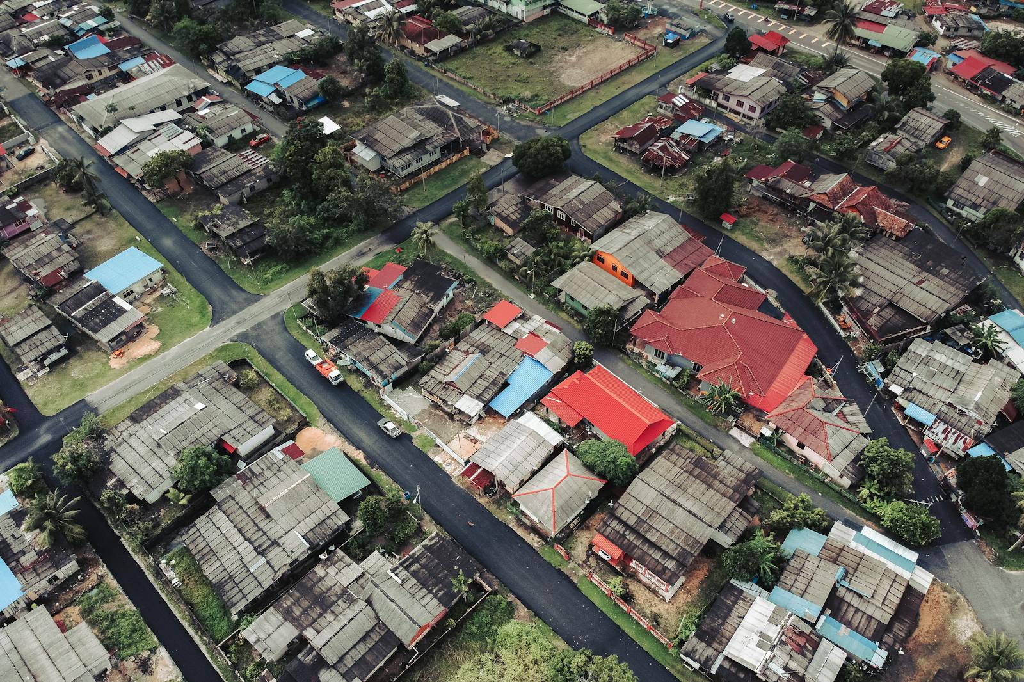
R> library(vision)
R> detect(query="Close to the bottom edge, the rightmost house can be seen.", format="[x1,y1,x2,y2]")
[768,521,933,669]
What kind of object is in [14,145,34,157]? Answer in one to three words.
vehicle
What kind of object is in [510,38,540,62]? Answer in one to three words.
shed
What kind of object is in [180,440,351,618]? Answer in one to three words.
house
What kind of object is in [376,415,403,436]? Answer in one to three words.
car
